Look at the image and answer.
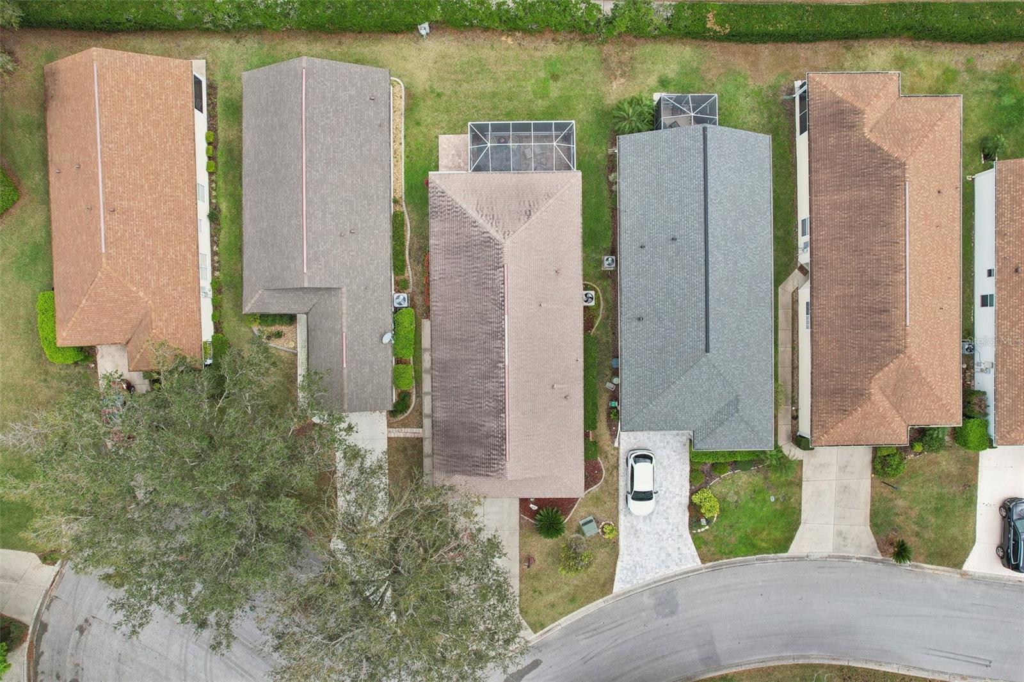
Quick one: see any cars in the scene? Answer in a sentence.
Yes, the frame does contain a car.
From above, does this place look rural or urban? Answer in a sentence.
From above, the setting appears urban.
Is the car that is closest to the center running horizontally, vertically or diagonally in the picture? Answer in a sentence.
In this picture, the car that is closest to the center lies vertically.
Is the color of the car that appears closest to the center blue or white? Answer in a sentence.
From above, the car that appears closest to the center appears white.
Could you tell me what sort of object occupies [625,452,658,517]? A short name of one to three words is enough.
car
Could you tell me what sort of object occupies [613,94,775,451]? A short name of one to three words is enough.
house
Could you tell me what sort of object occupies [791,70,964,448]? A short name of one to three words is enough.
house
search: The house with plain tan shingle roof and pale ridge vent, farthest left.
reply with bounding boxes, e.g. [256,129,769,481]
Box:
[45,48,213,372]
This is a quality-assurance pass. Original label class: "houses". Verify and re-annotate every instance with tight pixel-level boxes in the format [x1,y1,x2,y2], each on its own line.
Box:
[969,158,1024,447]
[791,70,964,448]
[613,94,775,451]
[428,120,585,498]
[45,48,213,372]
[243,56,394,411]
